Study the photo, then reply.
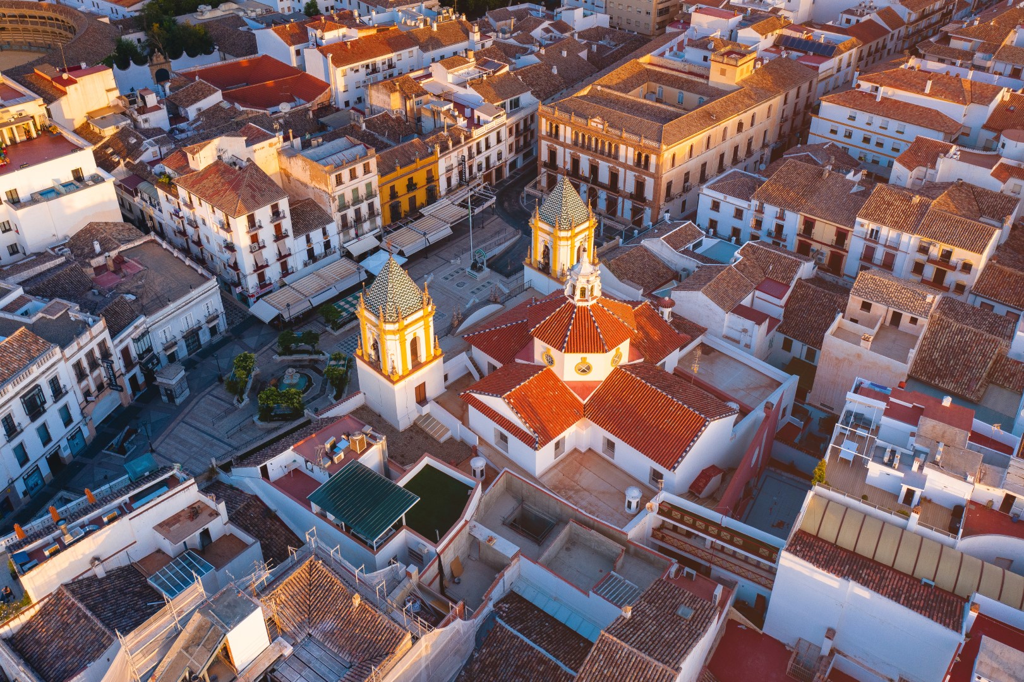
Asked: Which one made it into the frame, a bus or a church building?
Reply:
church building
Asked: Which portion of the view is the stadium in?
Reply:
top left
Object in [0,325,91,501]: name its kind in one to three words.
house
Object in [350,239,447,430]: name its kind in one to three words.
building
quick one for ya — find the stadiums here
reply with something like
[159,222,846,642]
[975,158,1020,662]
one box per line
[0,0,129,80]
